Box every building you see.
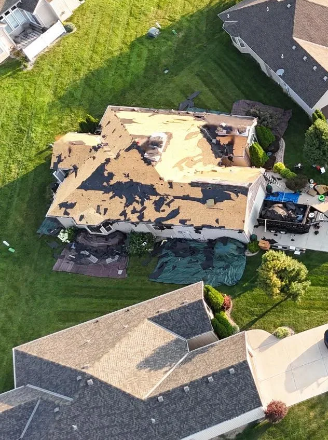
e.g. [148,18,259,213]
[47,107,269,243]
[0,280,265,440]
[223,0,328,119]
[0,0,84,66]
